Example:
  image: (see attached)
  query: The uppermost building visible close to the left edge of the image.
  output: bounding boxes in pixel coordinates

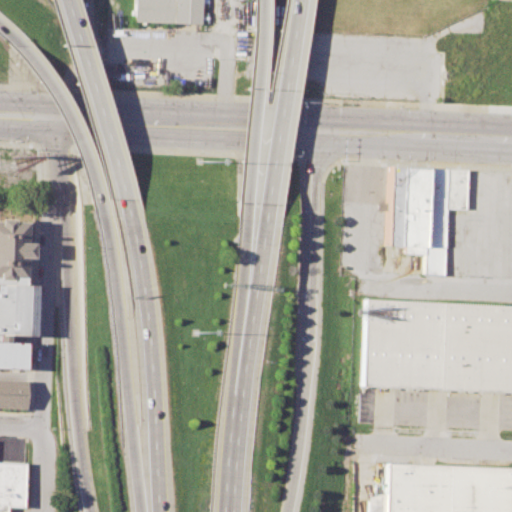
[0,220,40,284]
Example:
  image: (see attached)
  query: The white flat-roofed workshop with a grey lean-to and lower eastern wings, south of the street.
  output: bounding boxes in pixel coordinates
[394,168,470,276]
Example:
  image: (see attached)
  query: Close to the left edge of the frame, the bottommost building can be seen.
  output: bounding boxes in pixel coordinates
[0,462,29,508]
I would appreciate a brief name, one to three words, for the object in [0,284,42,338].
building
